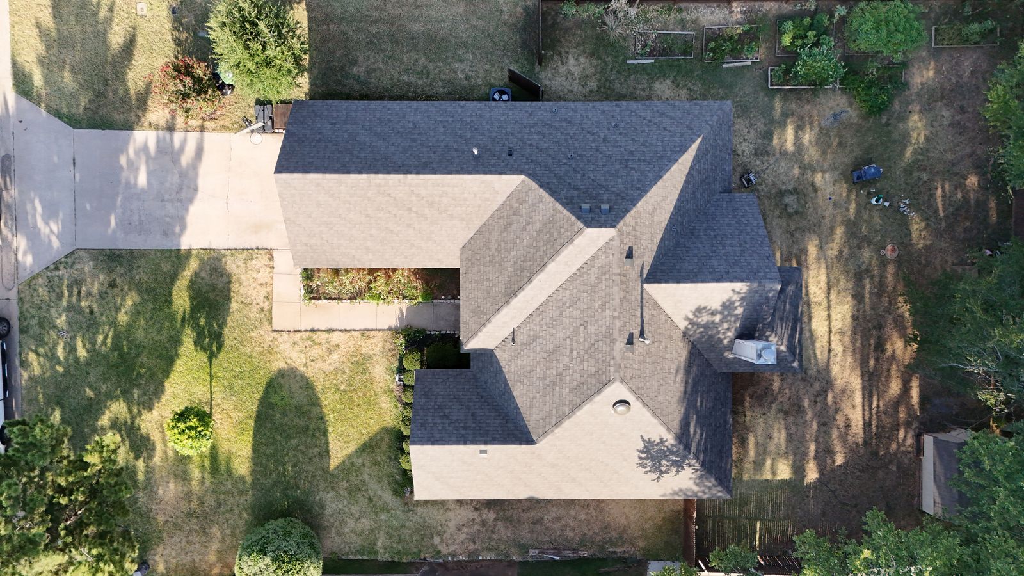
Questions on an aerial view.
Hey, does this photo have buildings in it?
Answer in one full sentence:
Yes, there's a building here.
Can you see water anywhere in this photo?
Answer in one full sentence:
No, there is no water in the image.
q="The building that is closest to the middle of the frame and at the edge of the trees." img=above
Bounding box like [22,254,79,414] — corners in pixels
[274,100,803,501]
